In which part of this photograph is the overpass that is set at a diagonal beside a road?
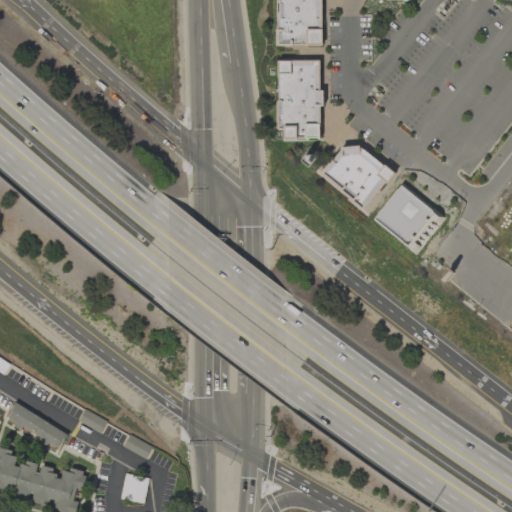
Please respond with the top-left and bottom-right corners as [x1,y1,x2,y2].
[154,185,304,418]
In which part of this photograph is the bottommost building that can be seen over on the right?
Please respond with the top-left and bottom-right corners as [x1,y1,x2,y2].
[374,186,446,254]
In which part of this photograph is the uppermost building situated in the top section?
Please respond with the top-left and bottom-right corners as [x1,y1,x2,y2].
[276,0,323,47]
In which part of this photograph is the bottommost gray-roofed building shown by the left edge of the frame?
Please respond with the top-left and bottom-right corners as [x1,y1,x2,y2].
[0,446,86,512]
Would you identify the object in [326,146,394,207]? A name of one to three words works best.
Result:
building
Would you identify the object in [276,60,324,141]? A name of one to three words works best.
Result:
building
